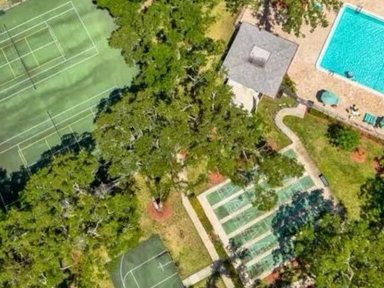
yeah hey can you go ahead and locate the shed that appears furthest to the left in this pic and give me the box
[221,21,300,97]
